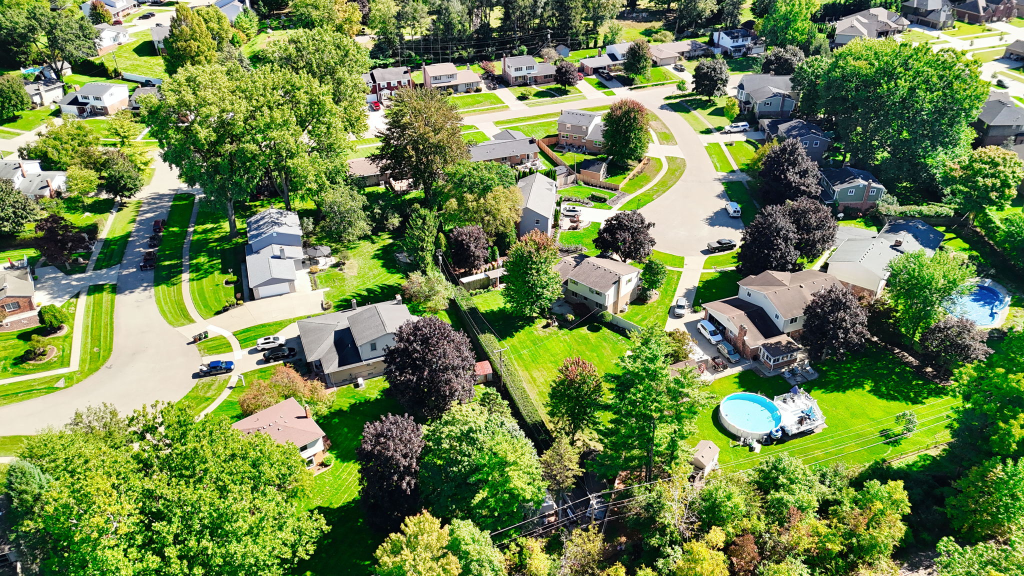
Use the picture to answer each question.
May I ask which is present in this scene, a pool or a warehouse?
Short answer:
pool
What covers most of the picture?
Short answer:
trees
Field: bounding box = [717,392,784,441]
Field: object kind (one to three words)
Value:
swimming pool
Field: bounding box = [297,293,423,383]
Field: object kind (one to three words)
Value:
house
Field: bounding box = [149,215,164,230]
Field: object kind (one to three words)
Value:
car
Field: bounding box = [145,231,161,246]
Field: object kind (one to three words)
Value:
car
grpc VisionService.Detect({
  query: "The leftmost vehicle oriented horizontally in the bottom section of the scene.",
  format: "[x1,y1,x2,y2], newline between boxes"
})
[196,359,236,378]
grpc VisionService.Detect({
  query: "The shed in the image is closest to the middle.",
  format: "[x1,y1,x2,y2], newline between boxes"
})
[454,265,507,293]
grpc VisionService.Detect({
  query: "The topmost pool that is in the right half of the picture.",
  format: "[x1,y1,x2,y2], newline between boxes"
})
[948,283,1014,329]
